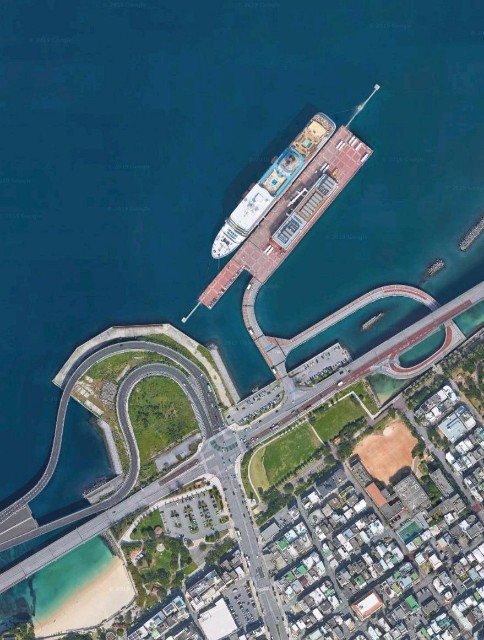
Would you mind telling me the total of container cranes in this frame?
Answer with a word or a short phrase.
0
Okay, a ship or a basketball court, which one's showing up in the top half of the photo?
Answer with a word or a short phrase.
ship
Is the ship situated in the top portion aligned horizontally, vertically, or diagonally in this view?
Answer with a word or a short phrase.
diagonally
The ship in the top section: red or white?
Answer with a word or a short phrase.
white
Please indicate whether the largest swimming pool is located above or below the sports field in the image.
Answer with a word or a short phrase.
below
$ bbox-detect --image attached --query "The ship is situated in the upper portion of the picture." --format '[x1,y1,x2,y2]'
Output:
[214,109,336,259]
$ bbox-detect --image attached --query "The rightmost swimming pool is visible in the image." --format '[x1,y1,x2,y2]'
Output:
[396,519,425,544]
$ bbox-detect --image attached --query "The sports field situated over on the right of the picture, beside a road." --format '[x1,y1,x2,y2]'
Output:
[356,420,418,486]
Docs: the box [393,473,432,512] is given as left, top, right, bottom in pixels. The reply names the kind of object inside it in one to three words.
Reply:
building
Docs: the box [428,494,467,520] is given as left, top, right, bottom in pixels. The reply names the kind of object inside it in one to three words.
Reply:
building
